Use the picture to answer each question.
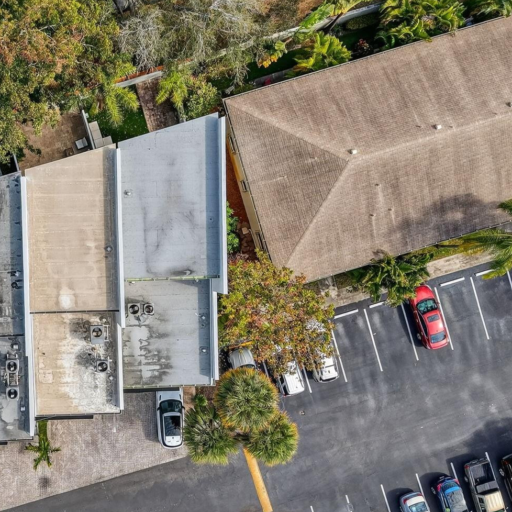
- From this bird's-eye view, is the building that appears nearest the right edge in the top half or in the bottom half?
top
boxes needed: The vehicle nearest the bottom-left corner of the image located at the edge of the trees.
[152,394,184,449]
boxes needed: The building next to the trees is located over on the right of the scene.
[221,13,512,292]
